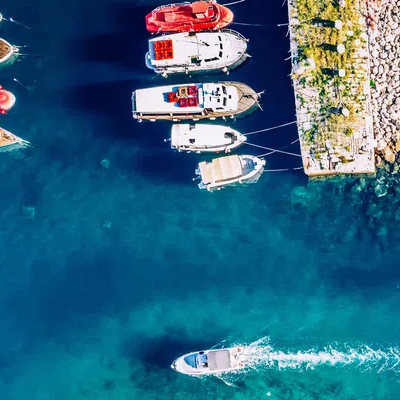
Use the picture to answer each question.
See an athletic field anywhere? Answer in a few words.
No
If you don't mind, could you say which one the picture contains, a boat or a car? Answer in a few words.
boat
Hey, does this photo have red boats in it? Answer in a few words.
Yes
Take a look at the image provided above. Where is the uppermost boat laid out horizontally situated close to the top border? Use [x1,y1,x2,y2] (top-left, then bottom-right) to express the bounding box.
[145,0,235,34]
